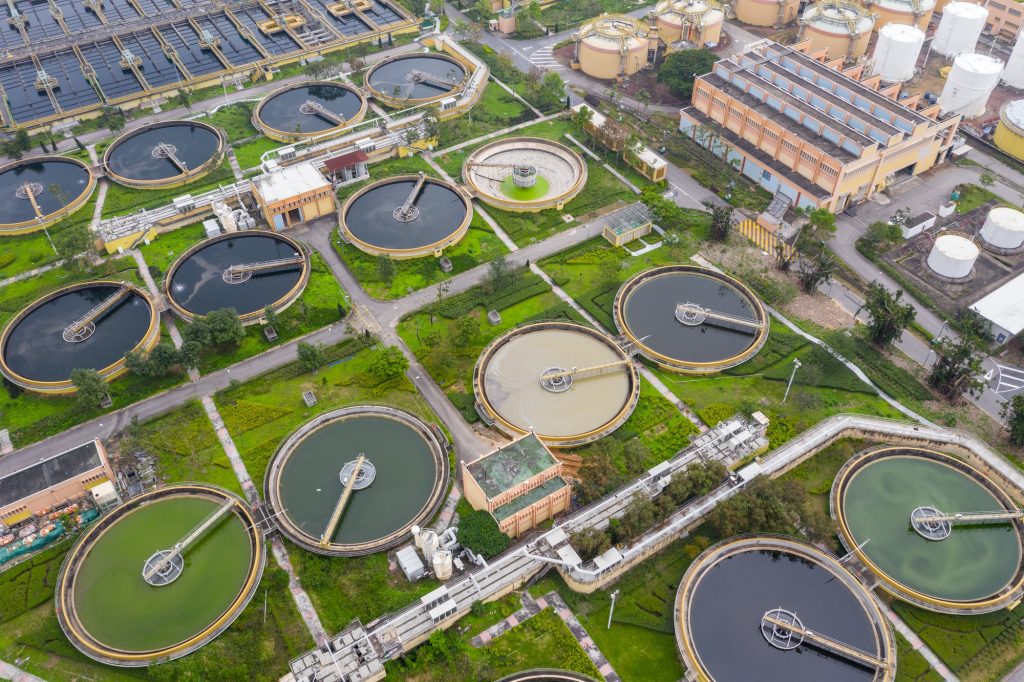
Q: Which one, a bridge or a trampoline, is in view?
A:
bridge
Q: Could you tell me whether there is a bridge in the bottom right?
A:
Yes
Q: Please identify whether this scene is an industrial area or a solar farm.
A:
industrial area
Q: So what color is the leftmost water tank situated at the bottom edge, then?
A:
green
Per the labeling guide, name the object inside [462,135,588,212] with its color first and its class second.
white water tank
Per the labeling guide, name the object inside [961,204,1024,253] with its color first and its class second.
white storage tank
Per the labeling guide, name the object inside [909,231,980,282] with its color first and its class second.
white storage tank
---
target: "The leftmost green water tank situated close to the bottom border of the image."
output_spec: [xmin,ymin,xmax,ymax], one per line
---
[56,482,267,667]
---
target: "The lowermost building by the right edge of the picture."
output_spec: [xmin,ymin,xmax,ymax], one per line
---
[968,274,1024,355]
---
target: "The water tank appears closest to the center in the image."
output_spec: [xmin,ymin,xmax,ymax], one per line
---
[474,319,640,448]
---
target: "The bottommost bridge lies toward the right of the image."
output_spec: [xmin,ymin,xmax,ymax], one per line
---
[766,609,896,677]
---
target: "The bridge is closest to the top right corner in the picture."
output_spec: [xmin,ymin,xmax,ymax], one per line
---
[679,301,769,335]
